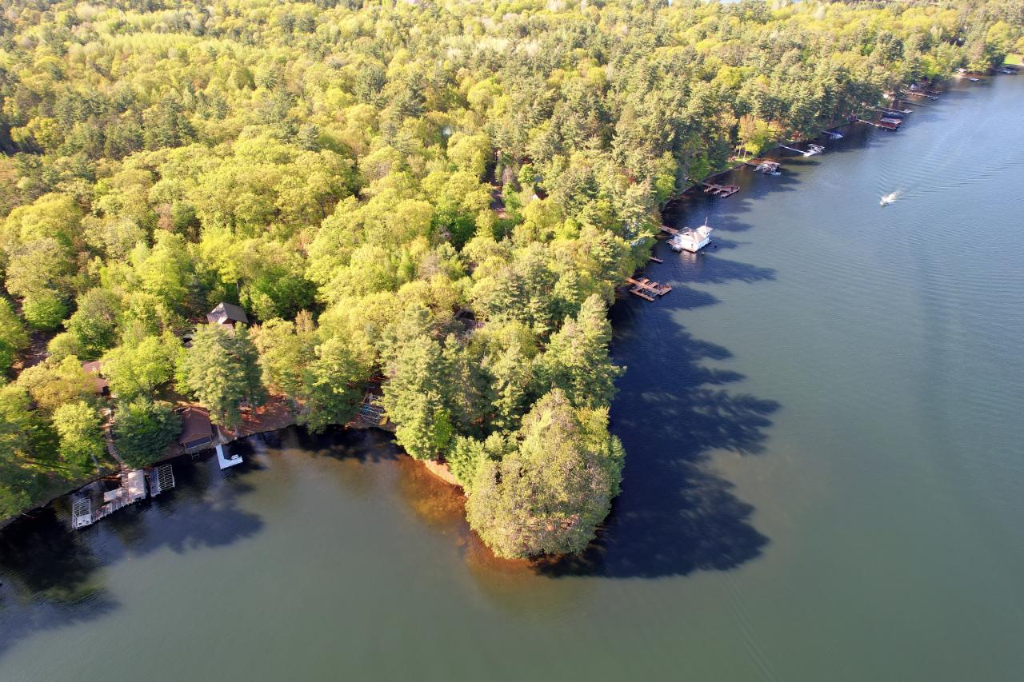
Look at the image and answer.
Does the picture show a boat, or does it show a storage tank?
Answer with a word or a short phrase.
boat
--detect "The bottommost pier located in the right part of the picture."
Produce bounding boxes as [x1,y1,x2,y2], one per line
[624,276,677,302]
